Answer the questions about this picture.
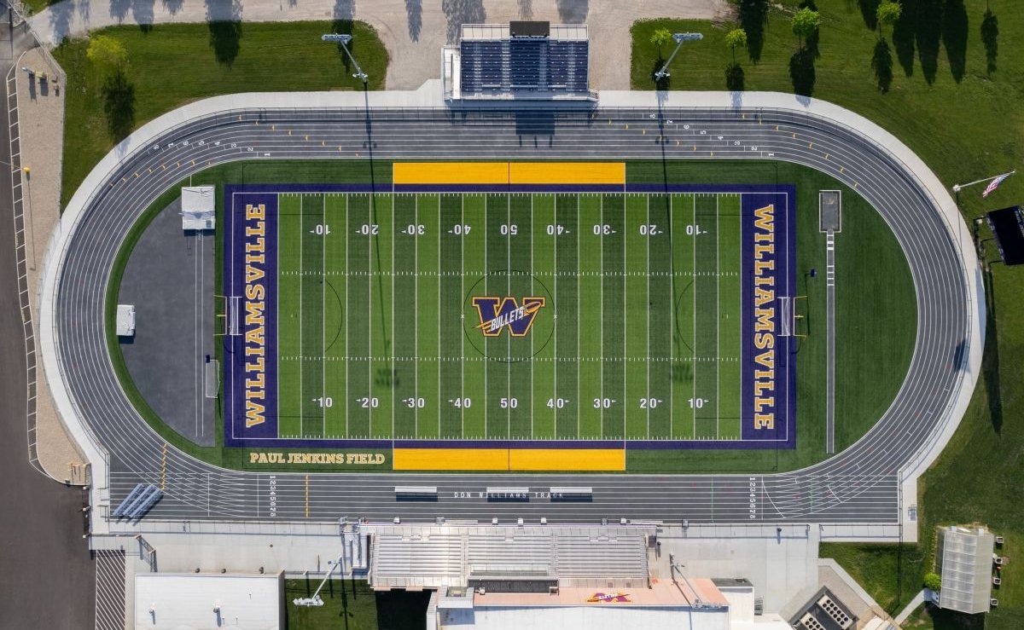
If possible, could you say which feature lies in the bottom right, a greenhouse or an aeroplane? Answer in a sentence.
Visible in the bottom right is a greenhouse.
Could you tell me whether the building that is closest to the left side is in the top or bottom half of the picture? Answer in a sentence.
The building that is closest to the left side is in the bottom half of the image.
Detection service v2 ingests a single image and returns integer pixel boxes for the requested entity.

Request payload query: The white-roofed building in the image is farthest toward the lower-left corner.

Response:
[134,567,288,630]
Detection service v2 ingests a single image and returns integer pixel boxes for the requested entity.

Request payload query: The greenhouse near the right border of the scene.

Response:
[929,526,995,614]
